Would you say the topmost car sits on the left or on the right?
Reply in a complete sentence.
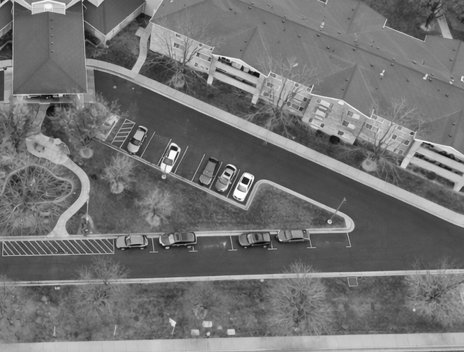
It is on the left.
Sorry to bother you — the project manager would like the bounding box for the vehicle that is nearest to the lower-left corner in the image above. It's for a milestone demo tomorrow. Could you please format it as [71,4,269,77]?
[114,233,150,250]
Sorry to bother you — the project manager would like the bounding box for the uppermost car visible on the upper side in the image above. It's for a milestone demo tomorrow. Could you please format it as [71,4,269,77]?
[126,125,148,155]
